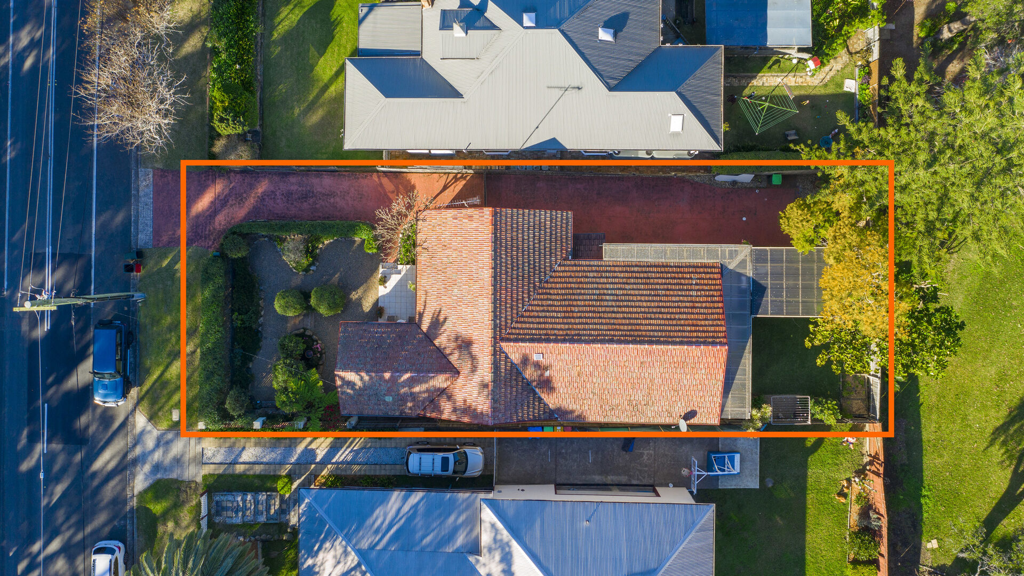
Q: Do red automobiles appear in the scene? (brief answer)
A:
No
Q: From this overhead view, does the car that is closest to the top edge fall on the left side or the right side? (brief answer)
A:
left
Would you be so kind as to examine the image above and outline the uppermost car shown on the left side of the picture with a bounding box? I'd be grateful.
[91,322,137,405]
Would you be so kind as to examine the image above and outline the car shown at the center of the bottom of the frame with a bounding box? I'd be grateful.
[406,441,486,478]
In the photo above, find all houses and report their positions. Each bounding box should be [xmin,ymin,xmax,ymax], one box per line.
[344,0,724,151]
[335,206,730,426]
[298,479,716,576]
